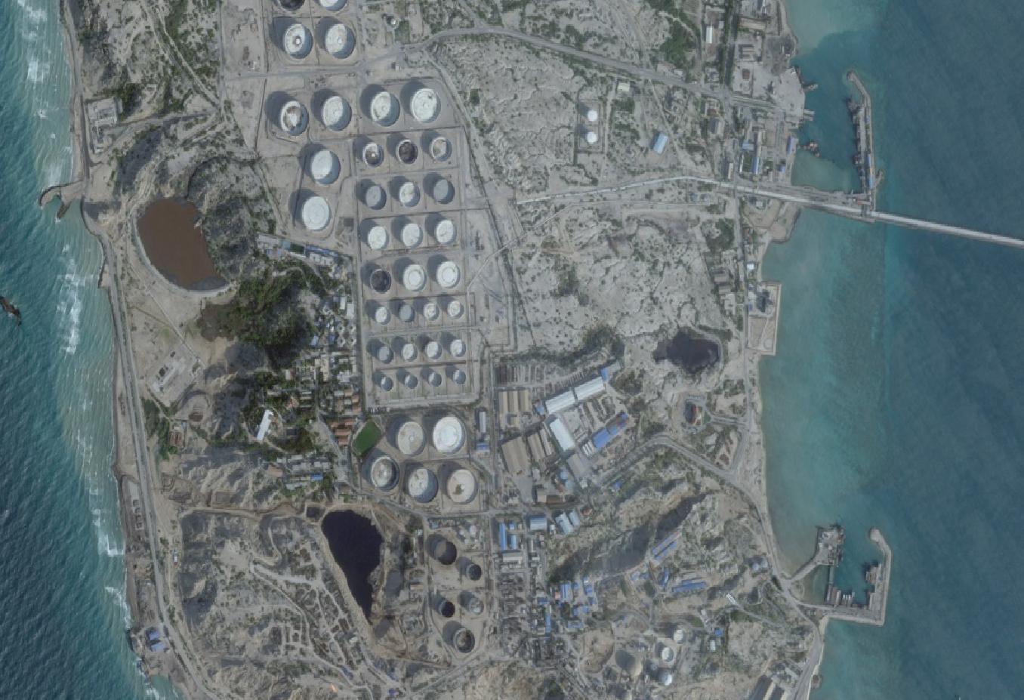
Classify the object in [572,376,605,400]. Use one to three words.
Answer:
building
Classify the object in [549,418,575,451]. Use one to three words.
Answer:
building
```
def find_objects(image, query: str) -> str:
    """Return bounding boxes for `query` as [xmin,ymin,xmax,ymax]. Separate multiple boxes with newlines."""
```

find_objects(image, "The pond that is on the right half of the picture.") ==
[655,333,718,373]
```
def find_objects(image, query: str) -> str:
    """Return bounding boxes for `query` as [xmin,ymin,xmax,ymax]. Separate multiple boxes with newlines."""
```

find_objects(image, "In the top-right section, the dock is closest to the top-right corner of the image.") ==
[791,71,883,223]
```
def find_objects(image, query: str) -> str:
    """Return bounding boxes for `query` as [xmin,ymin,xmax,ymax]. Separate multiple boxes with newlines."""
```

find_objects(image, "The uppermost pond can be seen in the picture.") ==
[139,199,223,286]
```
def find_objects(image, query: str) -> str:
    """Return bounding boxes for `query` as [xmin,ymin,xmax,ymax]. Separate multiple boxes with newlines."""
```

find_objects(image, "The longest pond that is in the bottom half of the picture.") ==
[324,511,383,620]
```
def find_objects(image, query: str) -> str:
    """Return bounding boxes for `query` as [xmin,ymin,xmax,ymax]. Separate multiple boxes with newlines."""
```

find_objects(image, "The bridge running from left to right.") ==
[868,211,1024,246]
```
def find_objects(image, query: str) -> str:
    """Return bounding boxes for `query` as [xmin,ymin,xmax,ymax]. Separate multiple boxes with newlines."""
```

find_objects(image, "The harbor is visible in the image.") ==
[788,525,891,625]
